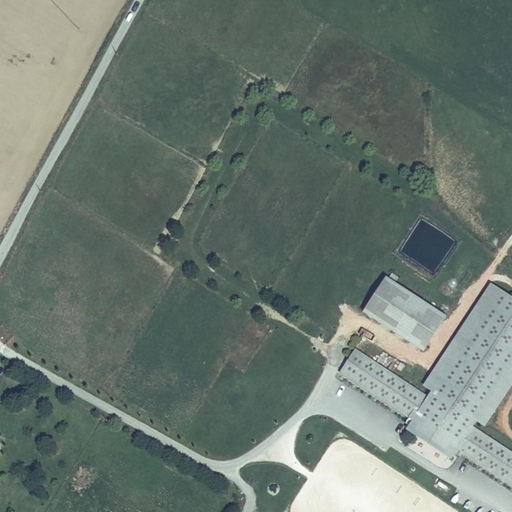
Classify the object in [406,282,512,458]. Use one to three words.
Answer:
building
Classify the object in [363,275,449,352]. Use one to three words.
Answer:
shed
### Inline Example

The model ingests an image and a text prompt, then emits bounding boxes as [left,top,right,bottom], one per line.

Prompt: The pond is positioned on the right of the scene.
[393,212,464,282]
